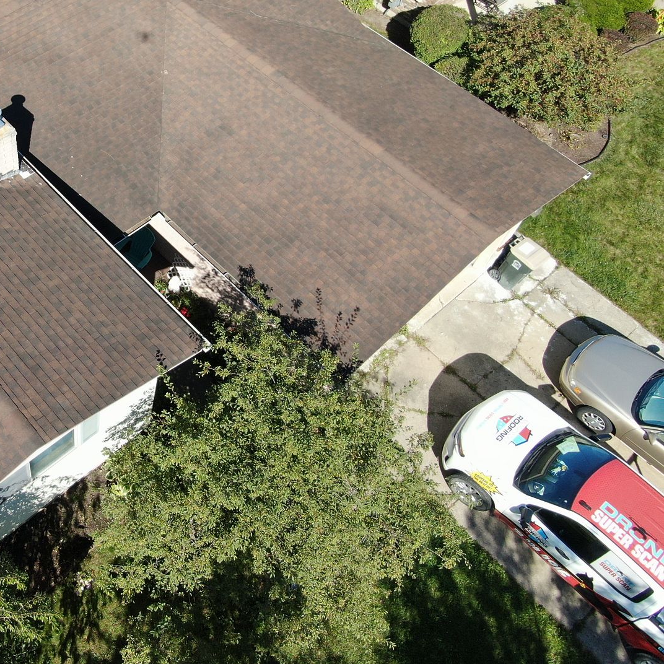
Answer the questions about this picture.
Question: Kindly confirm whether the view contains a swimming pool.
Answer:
No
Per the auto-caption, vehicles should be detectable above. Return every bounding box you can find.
[442,389,664,664]
[548,330,664,473]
